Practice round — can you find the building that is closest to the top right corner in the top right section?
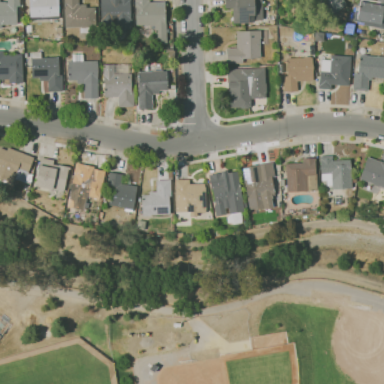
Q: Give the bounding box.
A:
[358,0,384,27]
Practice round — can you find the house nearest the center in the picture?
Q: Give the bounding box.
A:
[175,179,206,214]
